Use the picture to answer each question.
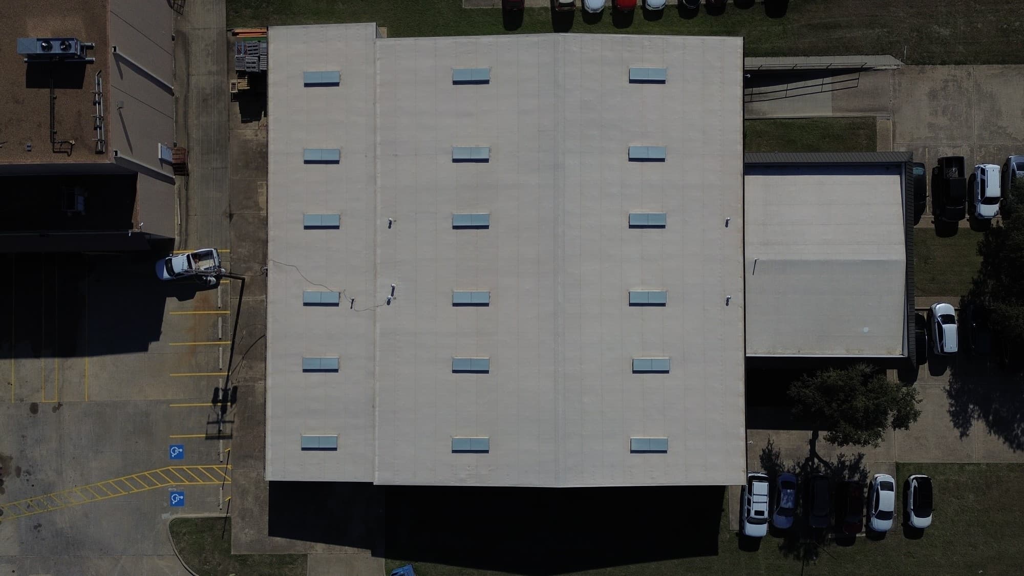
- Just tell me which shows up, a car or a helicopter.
car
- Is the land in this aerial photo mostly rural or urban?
urban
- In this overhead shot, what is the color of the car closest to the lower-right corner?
black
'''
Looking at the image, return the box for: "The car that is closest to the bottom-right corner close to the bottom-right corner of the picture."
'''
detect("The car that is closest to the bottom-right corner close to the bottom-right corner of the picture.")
[903,473,933,528]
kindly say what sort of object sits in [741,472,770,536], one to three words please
car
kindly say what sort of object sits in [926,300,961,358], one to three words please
car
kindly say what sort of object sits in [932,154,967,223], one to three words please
truck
